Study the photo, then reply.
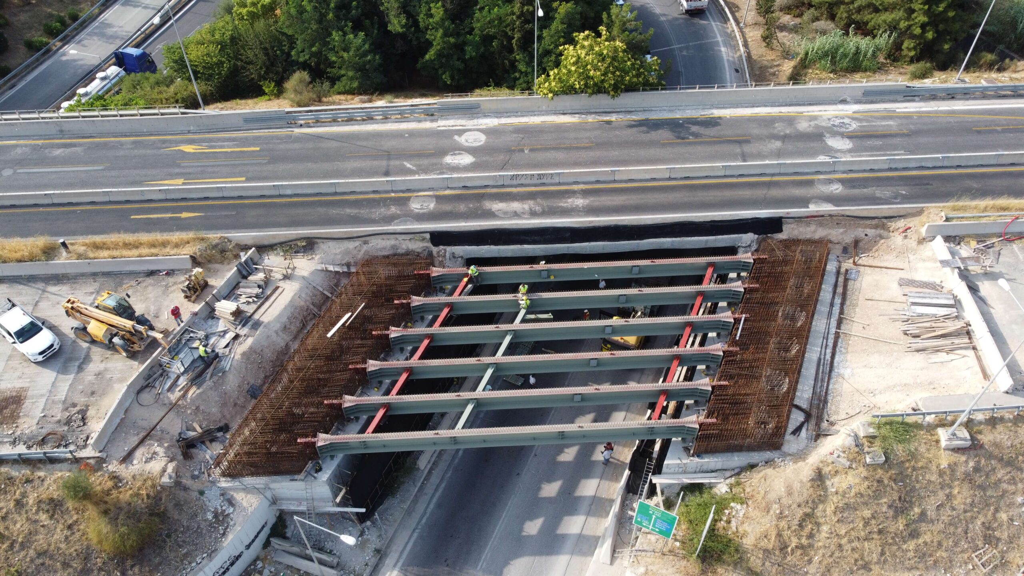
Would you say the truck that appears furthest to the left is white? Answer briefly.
Yes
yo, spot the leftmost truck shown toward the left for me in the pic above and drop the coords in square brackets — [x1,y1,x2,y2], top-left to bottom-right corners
[0,299,58,365]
